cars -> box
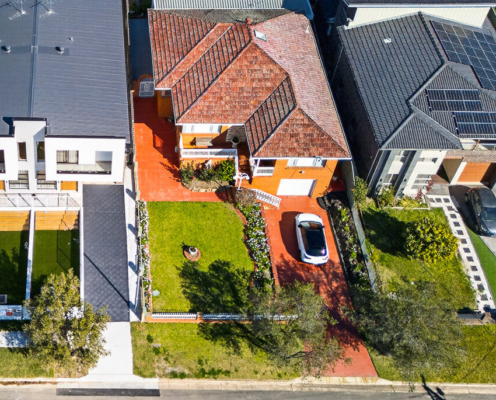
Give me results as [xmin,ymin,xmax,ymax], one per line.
[469,185,496,240]
[291,208,328,263]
